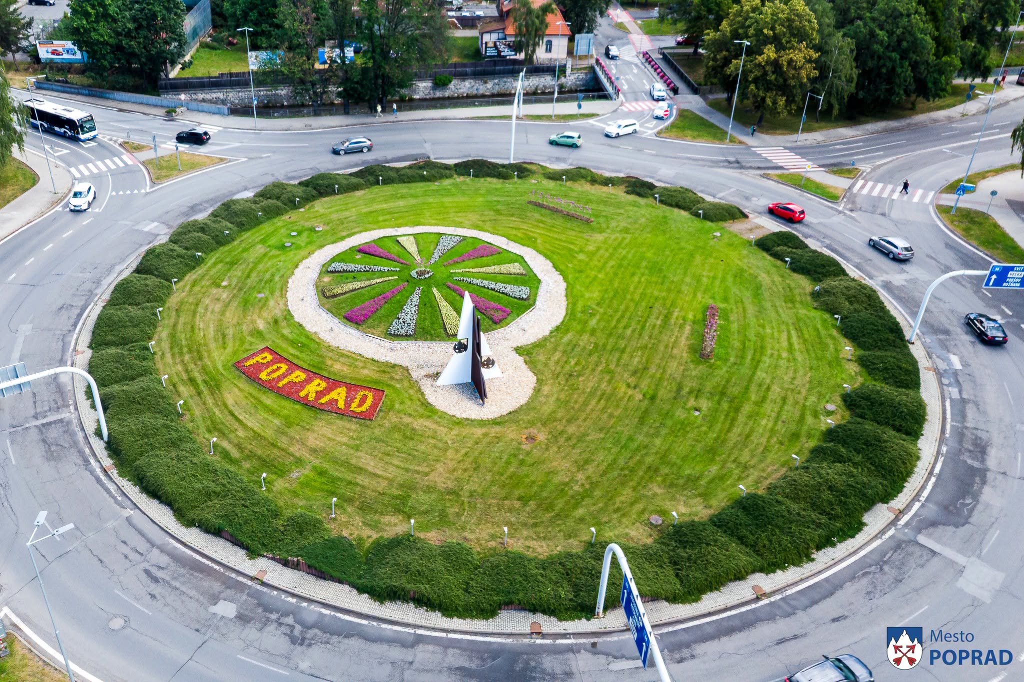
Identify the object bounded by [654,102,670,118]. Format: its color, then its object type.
white car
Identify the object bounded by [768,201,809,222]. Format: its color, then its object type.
red car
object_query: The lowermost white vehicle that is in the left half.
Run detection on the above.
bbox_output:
[66,180,95,208]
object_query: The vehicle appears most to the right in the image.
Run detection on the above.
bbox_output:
[961,312,1015,344]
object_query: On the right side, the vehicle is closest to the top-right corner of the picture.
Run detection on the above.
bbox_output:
[870,235,916,260]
